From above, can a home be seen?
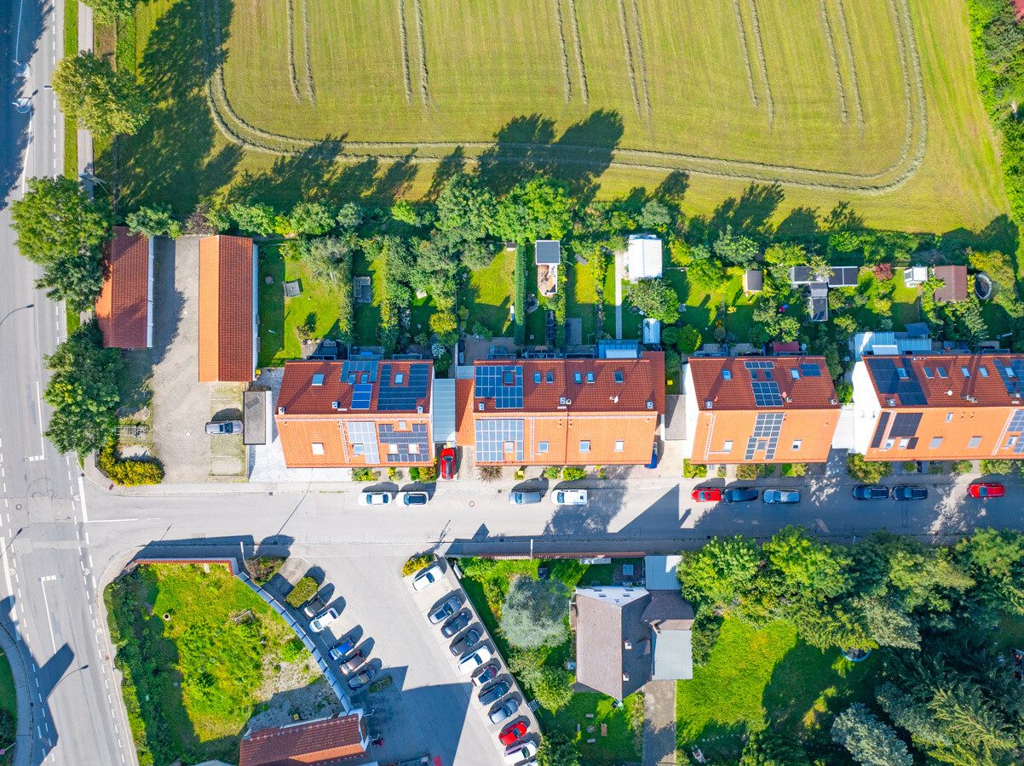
Yes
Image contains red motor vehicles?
Yes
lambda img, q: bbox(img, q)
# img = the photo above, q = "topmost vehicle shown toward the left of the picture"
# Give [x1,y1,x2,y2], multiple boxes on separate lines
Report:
[207,420,244,436]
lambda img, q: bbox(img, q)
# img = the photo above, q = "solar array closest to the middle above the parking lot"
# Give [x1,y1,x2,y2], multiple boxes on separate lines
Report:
[475,365,523,407]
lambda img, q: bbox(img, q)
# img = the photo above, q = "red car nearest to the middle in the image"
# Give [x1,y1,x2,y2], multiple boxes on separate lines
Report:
[439,447,455,480]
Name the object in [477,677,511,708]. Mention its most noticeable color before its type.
blue car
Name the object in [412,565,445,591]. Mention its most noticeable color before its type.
white car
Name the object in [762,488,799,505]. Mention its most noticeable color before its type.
blue car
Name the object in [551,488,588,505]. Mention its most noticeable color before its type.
white vehicle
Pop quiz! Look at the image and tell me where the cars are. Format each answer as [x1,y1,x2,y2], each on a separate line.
[428,595,462,623]
[347,662,379,691]
[498,718,529,748]
[458,645,492,675]
[509,489,542,505]
[306,593,330,615]
[762,488,799,505]
[889,485,927,501]
[207,420,244,436]
[488,697,520,726]
[412,565,445,591]
[850,484,888,501]
[397,490,430,507]
[504,737,537,766]
[690,487,721,503]
[358,490,394,507]
[644,441,660,472]
[449,627,482,657]
[339,649,368,676]
[722,487,758,504]
[329,636,358,661]
[470,661,501,690]
[477,677,511,708]
[440,611,473,638]
[309,605,341,631]
[439,447,455,480]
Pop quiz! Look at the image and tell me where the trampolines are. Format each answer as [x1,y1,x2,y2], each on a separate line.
[838,644,870,666]
[968,275,1003,297]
